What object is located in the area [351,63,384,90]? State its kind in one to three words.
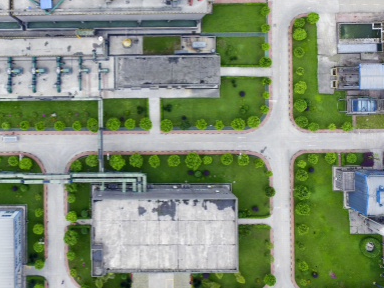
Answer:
shed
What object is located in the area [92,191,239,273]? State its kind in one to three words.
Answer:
building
